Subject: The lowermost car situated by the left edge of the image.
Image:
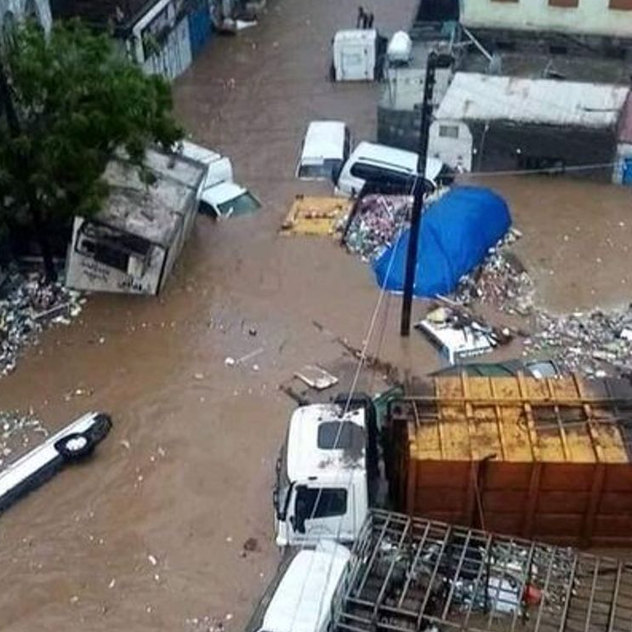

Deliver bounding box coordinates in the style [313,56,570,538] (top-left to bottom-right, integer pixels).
[0,417,128,519]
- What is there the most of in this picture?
water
